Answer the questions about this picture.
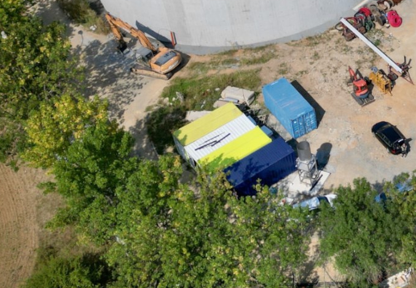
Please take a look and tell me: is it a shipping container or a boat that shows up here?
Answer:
shipping container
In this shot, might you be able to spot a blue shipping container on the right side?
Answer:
Yes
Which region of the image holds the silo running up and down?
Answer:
right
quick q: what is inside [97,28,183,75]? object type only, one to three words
work vehicle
